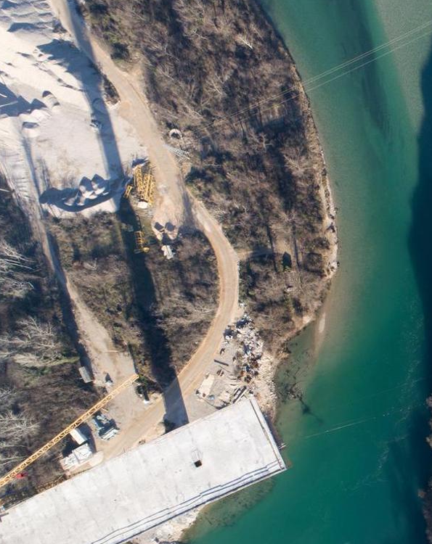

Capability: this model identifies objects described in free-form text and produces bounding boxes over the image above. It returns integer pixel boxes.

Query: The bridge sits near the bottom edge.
[0,399,286,544]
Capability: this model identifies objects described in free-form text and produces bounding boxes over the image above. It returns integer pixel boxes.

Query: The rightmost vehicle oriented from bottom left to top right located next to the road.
[98,425,118,440]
